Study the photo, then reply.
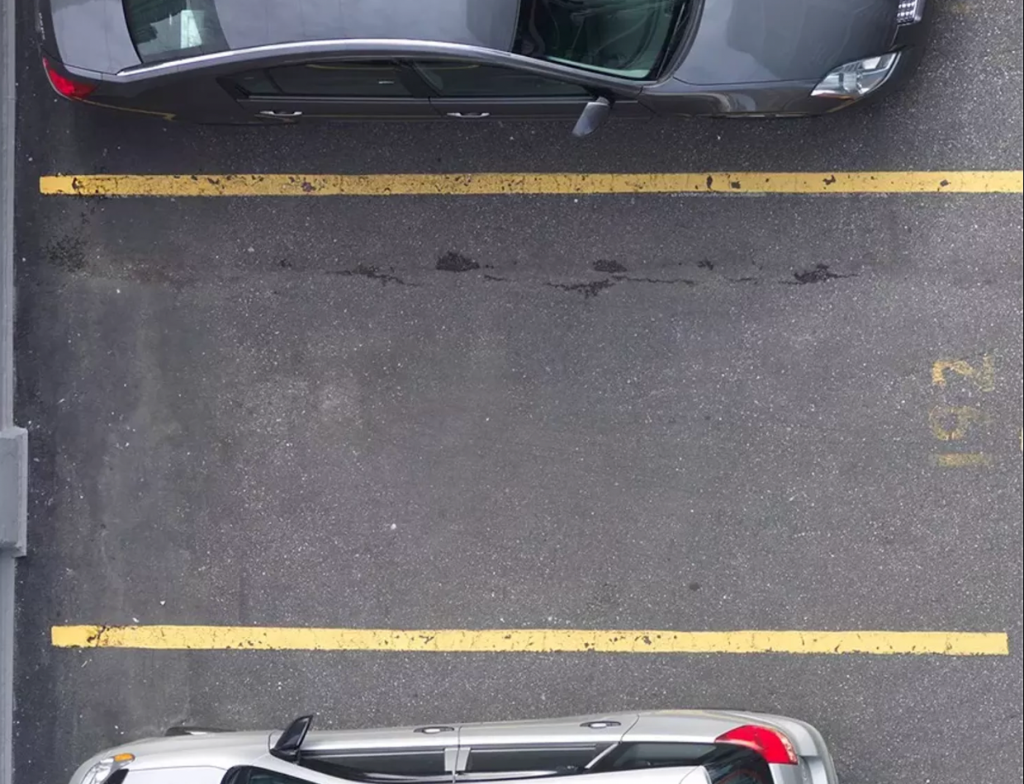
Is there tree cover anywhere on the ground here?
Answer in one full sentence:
No, the picture contains no tree cover.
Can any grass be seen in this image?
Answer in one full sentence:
No, no grass is visible.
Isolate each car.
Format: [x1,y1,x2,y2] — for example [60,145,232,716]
[35,0,930,135]
[65,709,836,784]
